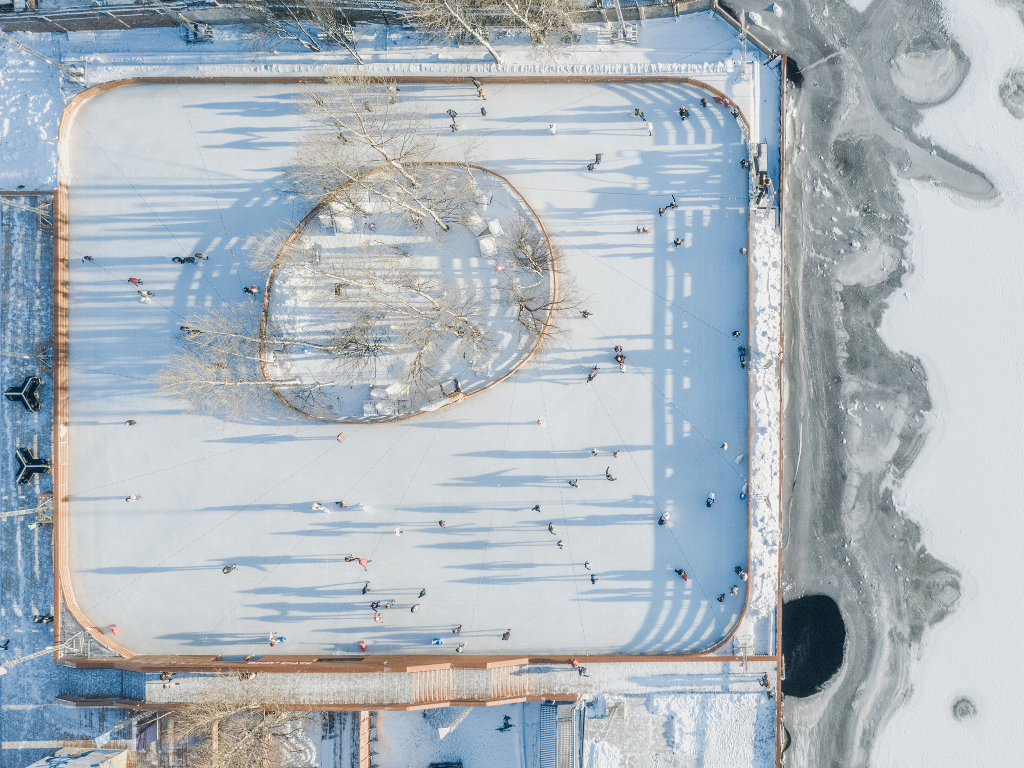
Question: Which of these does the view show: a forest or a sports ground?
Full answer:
The picture captures a sports ground.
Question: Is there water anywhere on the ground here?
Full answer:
Yes, water can be seen from above here.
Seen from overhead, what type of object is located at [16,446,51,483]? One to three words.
tent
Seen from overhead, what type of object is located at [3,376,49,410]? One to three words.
tent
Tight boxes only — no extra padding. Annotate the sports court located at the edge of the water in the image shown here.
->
[66,83,750,655]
